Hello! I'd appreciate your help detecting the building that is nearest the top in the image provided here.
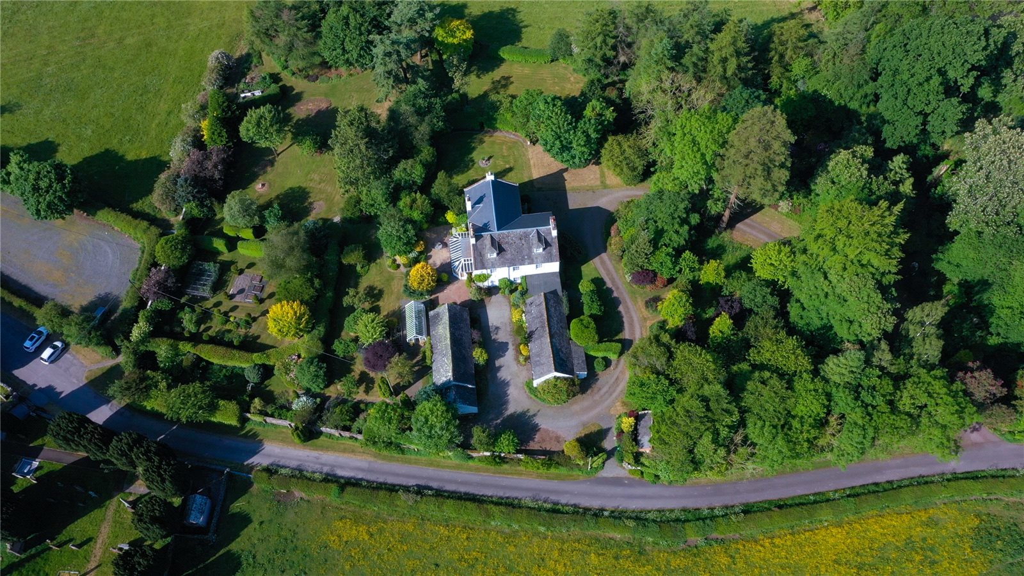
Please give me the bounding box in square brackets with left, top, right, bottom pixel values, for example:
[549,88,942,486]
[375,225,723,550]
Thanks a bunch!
[449,173,565,303]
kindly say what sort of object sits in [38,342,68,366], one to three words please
car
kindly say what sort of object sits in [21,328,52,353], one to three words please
car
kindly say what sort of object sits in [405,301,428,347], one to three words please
greenhouse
